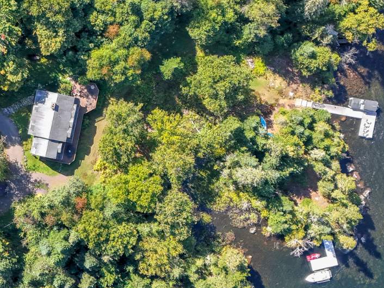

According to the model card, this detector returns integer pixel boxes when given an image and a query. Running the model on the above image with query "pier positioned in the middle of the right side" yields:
[324,103,376,138]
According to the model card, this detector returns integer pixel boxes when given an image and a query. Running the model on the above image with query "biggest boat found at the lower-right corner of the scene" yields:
[307,268,334,283]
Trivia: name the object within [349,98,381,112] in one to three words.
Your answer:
boat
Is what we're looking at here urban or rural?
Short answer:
rural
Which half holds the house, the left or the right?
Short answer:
left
